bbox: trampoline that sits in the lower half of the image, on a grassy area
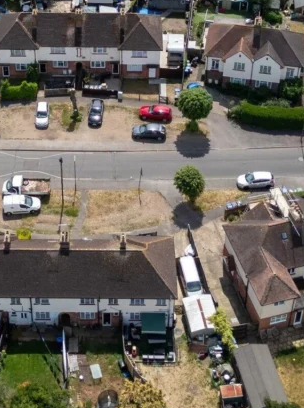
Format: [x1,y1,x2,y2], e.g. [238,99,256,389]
[92,376,121,408]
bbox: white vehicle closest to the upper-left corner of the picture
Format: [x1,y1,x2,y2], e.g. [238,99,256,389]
[33,103,50,128]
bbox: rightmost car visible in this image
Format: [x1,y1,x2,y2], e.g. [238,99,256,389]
[237,172,274,192]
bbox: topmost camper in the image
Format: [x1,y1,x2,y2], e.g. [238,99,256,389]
[165,35,184,64]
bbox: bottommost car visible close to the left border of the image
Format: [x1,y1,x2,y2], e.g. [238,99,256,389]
[2,195,43,218]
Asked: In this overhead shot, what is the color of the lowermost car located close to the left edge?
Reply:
white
